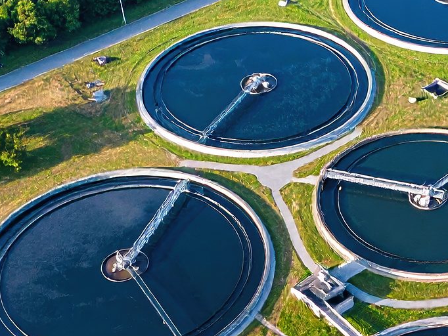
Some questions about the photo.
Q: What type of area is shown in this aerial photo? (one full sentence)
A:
What you see here is an industrial area.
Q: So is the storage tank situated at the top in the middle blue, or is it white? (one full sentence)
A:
The storage tank situated at the top in the middle is blue.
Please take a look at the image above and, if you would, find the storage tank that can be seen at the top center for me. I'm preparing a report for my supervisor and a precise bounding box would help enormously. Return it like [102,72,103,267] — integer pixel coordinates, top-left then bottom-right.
[139,24,375,159]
